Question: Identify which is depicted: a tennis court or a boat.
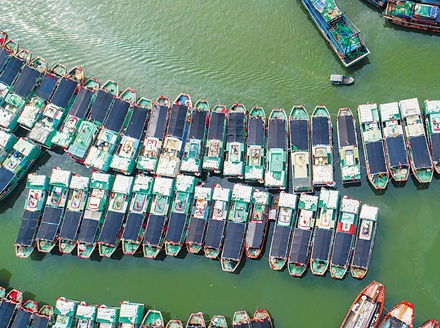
boat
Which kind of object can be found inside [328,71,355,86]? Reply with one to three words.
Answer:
boat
